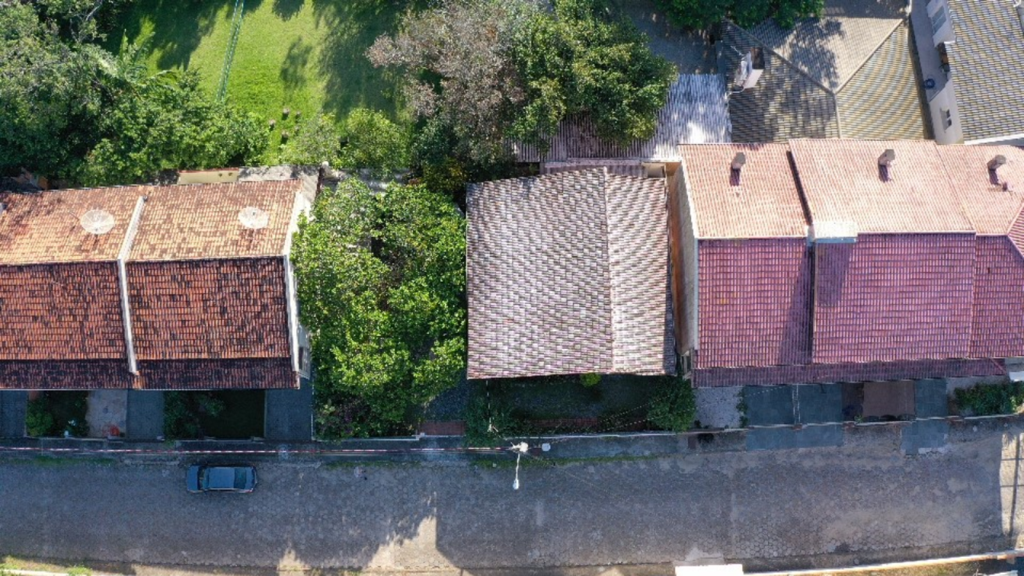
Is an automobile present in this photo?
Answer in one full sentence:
Yes, an automobile is visible in the scene.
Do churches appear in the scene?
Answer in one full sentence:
No, the photo shows no church.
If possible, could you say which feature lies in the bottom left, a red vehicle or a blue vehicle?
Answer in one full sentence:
There is a blue vehicle in the bottom left.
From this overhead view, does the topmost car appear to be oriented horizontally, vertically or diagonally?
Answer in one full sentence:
The topmost car is laid out horizontally.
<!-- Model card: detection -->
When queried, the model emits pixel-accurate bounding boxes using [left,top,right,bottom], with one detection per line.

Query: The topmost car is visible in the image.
[183,461,260,499]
